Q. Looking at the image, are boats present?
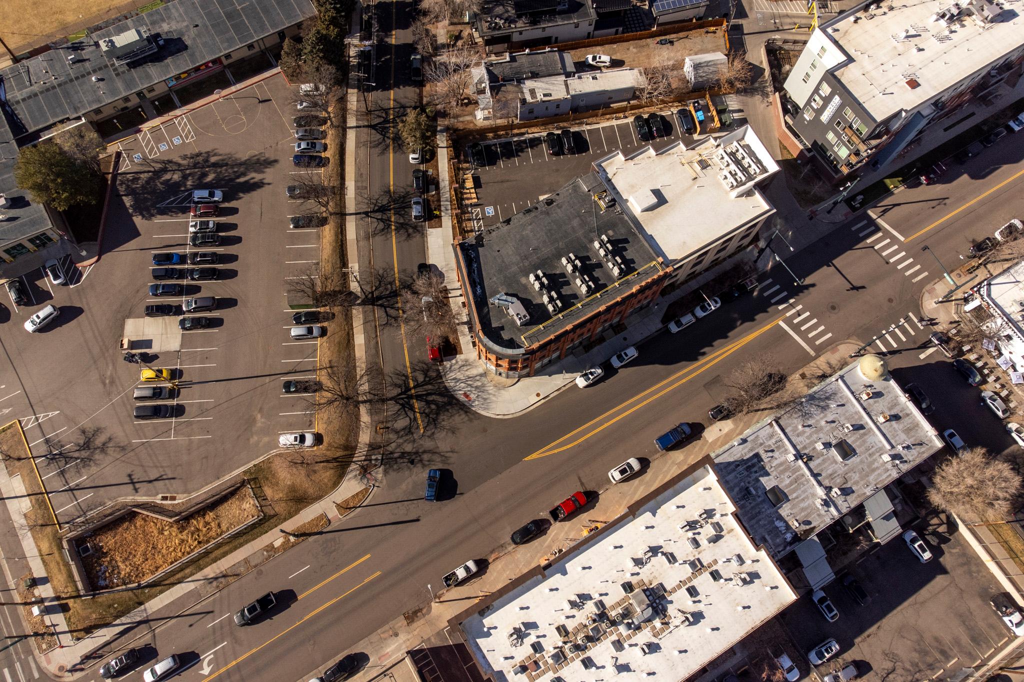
No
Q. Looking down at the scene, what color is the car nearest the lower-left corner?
black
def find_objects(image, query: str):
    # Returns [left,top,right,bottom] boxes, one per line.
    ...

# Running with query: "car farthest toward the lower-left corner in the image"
[99,647,140,682]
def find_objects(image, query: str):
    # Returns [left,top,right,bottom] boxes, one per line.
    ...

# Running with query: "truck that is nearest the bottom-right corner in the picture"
[987,590,1024,634]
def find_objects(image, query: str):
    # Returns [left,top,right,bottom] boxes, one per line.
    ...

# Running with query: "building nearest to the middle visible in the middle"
[448,171,675,385]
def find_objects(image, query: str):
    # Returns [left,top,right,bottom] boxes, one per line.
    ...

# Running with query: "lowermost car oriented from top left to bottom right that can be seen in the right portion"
[771,648,804,682]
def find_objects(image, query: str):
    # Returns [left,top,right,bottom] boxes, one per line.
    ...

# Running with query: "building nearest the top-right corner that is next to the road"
[785,0,1024,177]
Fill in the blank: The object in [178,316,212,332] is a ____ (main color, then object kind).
black car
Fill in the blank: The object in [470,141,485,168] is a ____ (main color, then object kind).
black car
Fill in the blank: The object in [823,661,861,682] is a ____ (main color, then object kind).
gray car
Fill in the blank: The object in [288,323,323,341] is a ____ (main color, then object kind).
gray car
